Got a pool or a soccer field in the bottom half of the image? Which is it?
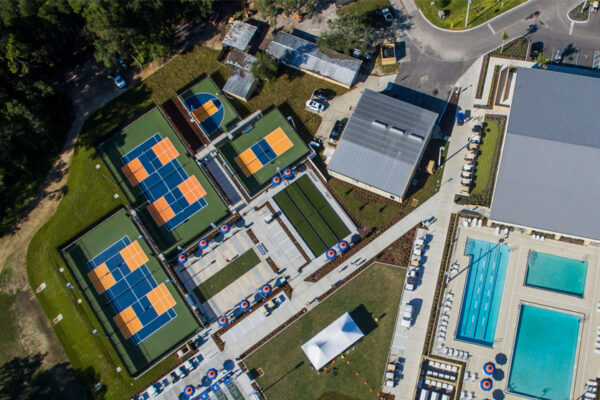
pool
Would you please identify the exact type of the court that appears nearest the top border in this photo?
basketball court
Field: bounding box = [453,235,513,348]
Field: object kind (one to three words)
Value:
swimming pool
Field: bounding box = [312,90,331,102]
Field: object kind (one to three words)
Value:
vehicle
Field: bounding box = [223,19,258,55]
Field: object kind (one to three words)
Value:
shed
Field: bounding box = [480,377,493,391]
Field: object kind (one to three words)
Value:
umbrella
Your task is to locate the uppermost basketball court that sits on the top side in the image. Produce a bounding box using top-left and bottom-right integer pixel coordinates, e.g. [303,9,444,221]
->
[178,77,239,141]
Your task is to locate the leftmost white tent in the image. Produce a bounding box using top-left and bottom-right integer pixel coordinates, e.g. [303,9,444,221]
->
[301,313,365,372]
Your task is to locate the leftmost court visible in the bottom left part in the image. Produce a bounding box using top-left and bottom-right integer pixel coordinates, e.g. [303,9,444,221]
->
[62,210,200,373]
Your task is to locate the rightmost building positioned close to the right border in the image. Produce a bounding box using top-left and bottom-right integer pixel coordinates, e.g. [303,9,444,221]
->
[490,67,600,249]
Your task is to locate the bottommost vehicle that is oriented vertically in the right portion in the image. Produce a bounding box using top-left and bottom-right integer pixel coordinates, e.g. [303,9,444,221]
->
[401,300,414,329]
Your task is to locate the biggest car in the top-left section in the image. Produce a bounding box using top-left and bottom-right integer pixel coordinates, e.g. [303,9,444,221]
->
[114,75,127,90]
